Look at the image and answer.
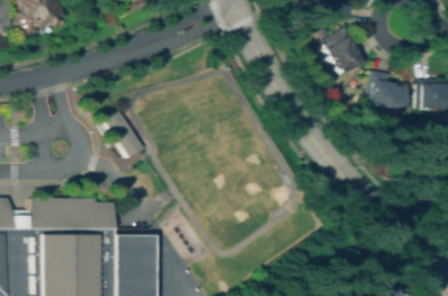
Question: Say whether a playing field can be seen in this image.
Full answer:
Yes, the picture does show a playing field.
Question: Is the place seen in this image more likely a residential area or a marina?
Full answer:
This looks like a residential area.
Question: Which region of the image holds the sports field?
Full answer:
The sports field is in the center part of the image.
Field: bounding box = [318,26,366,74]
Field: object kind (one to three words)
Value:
house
